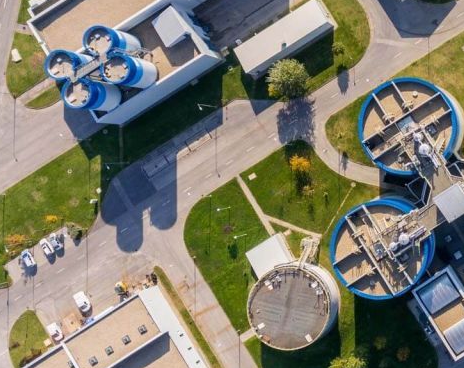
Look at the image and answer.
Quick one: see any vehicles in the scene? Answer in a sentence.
Yes, there is a vehicle in the image.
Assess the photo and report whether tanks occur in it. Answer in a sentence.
Yes, this view includes a tank.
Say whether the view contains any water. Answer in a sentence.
No, no water is visible.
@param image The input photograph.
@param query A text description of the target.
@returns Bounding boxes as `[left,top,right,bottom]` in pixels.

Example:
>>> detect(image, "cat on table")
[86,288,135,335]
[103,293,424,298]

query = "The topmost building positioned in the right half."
[234,0,338,73]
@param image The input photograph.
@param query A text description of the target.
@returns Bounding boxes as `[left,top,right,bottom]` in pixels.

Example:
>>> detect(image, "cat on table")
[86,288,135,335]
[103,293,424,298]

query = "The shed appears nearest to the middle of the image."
[246,232,299,278]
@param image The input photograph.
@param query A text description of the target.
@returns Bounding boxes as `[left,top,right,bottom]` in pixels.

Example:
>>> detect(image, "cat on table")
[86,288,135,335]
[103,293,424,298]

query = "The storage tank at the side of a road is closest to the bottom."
[245,259,339,351]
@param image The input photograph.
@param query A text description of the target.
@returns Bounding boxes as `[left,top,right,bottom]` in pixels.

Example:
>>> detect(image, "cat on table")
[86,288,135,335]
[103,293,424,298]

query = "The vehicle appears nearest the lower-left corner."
[45,323,63,342]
